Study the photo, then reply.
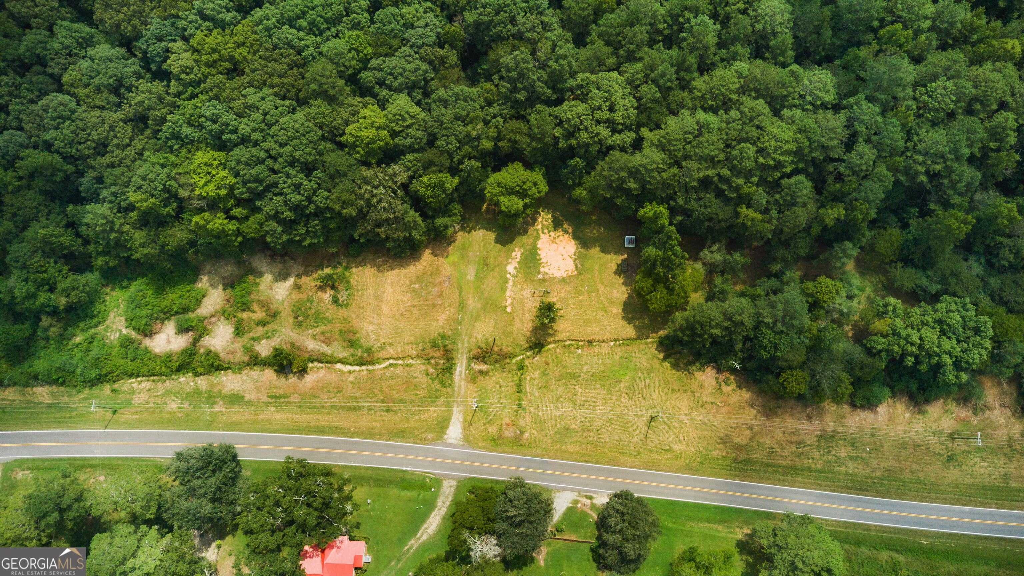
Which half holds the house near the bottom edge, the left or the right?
left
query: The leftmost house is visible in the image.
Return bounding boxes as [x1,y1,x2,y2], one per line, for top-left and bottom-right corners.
[298,531,373,576]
